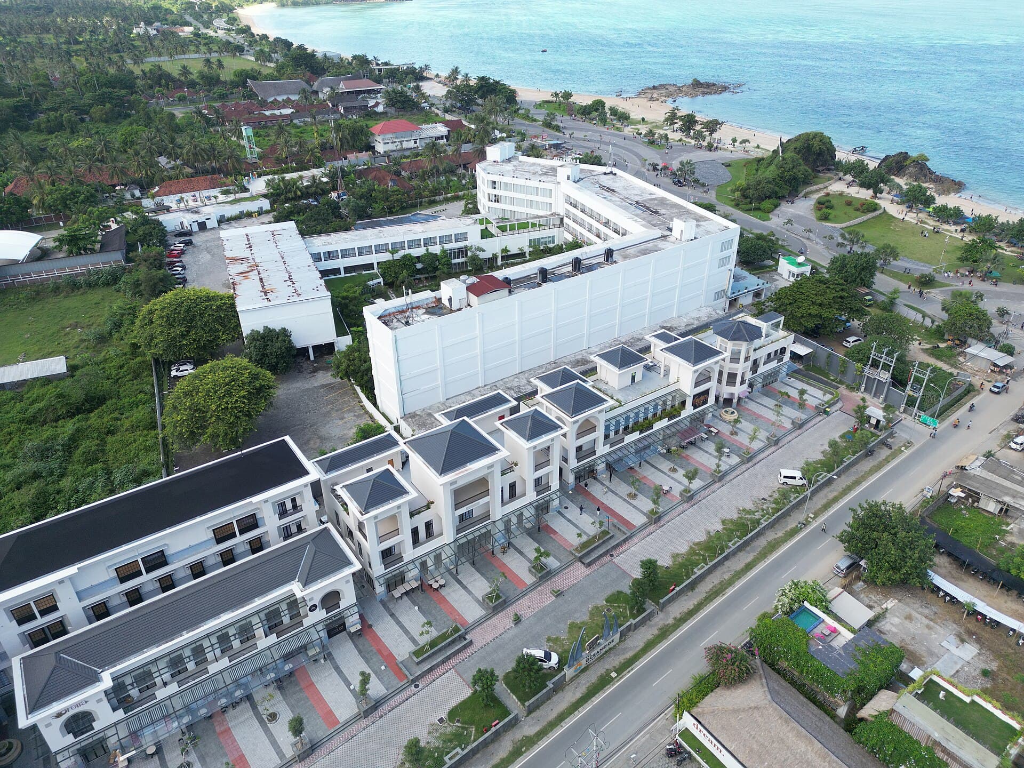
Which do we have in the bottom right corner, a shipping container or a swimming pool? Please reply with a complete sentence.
The one visible in the bottom right corner is a swimming pool.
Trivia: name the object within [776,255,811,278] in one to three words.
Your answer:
building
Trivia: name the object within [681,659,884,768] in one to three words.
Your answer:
house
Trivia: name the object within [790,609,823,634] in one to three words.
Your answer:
swimming pool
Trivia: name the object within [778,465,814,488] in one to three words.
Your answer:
vehicle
